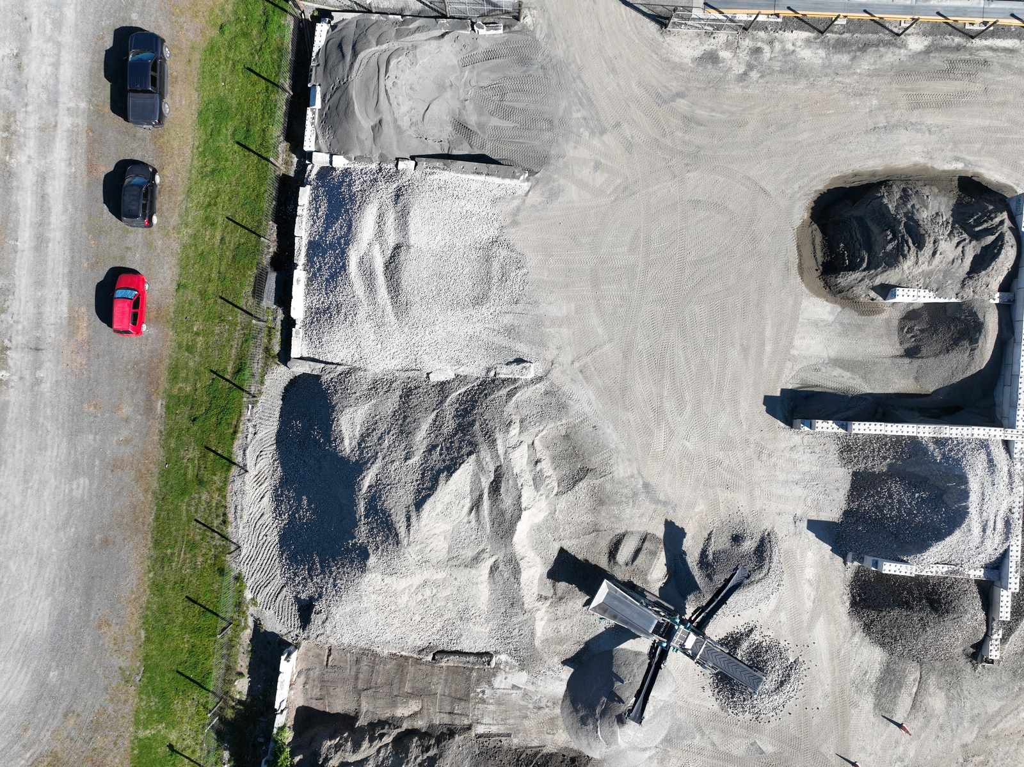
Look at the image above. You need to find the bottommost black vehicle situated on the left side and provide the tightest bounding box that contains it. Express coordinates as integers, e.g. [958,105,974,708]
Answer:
[118,165,160,231]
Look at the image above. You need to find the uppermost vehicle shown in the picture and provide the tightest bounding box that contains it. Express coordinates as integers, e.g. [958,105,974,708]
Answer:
[126,33,170,131]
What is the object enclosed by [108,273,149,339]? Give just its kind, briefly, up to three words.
car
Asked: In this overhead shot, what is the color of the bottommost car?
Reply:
red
